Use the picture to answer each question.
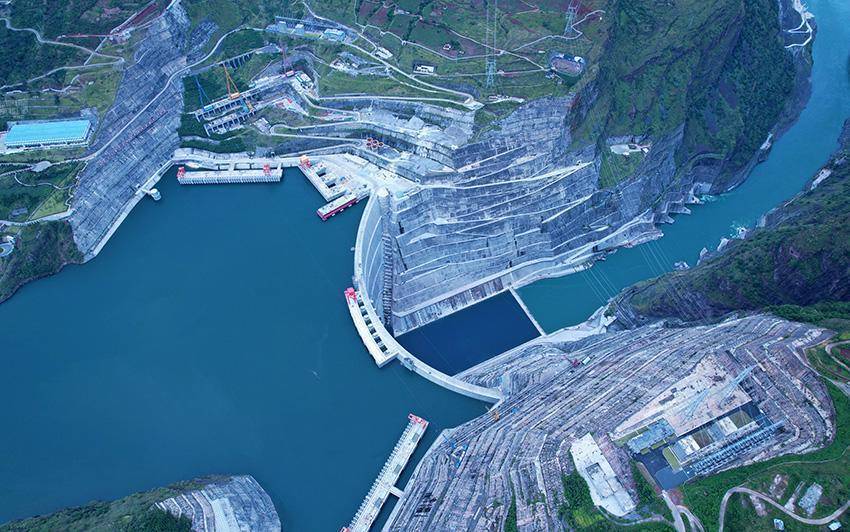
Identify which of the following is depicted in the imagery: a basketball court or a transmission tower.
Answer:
transmission tower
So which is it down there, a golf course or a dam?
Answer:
dam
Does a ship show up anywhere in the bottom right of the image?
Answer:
No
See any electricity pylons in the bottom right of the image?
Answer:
Yes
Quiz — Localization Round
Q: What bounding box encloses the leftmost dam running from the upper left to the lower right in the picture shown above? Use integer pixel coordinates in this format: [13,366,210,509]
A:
[351,188,502,408]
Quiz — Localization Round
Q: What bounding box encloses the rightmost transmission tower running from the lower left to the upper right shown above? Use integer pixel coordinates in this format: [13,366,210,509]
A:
[716,362,762,409]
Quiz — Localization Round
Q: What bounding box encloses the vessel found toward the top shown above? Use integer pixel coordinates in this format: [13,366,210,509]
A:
[317,190,364,223]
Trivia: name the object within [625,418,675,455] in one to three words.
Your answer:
building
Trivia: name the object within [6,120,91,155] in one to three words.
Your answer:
building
